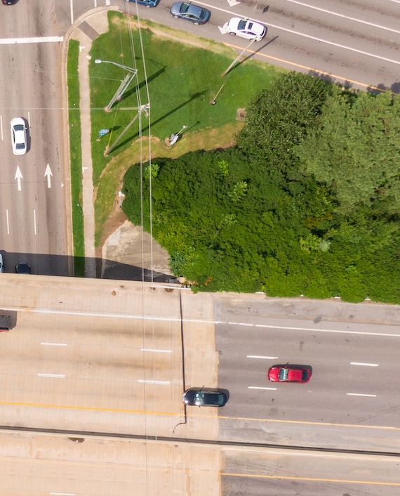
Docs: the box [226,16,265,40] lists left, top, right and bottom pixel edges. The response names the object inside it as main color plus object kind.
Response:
white car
